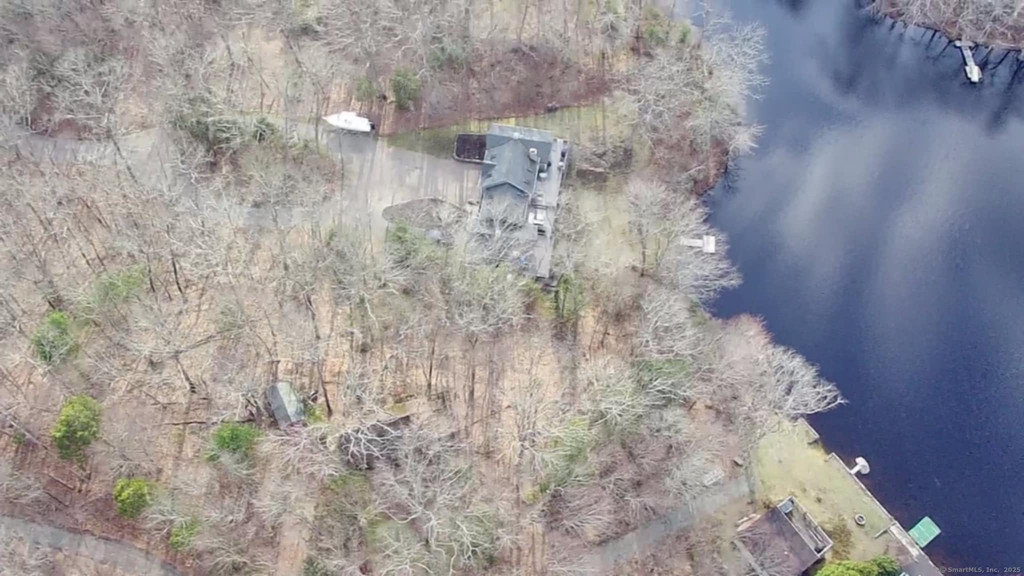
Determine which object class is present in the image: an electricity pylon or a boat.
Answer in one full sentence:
This aerial view contains a boat.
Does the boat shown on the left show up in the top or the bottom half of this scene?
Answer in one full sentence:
It is in the top half that the boat shown on the left appears.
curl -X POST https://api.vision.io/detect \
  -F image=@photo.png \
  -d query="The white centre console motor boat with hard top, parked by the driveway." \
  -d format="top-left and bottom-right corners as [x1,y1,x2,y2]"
[323,110,374,136]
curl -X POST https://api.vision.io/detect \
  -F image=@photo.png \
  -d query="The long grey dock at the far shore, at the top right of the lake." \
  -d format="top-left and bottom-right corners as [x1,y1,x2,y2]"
[956,40,983,80]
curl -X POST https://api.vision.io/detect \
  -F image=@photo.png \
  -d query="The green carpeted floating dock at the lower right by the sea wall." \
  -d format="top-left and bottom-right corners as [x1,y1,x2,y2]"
[907,516,942,548]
